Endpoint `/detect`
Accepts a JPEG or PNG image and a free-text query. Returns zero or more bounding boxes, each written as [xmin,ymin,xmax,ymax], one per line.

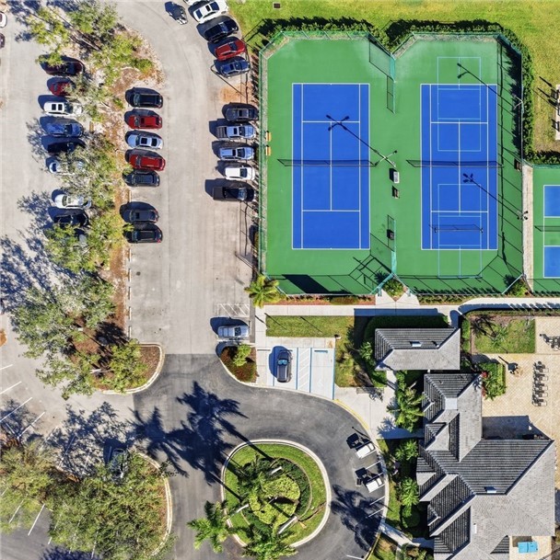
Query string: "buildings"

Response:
[374,328,460,371]
[417,374,555,560]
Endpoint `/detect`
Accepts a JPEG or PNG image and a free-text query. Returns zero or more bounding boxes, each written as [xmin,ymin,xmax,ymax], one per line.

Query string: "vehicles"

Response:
[216,123,255,139]
[217,324,251,339]
[109,446,130,479]
[128,207,162,223]
[44,57,83,75]
[128,170,162,186]
[0,33,6,48]
[356,441,377,459]
[218,146,255,160]
[213,39,249,60]
[219,58,251,77]
[45,80,77,96]
[130,152,166,170]
[46,120,84,137]
[223,104,259,121]
[364,475,386,493]
[129,88,163,105]
[224,166,255,181]
[45,138,82,155]
[129,132,164,148]
[0,13,10,28]
[129,112,163,128]
[191,0,228,22]
[129,226,165,242]
[211,184,255,202]
[202,18,240,41]
[275,350,292,383]
[173,9,186,23]
[45,99,83,117]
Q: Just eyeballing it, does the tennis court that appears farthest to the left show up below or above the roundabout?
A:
above it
